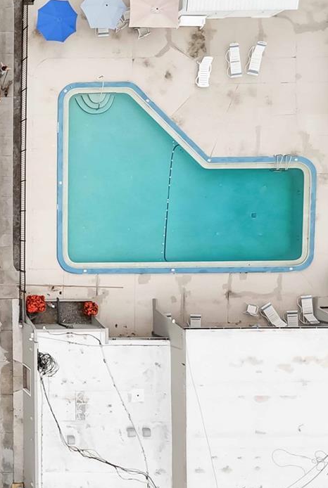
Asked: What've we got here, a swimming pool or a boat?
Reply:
swimming pool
